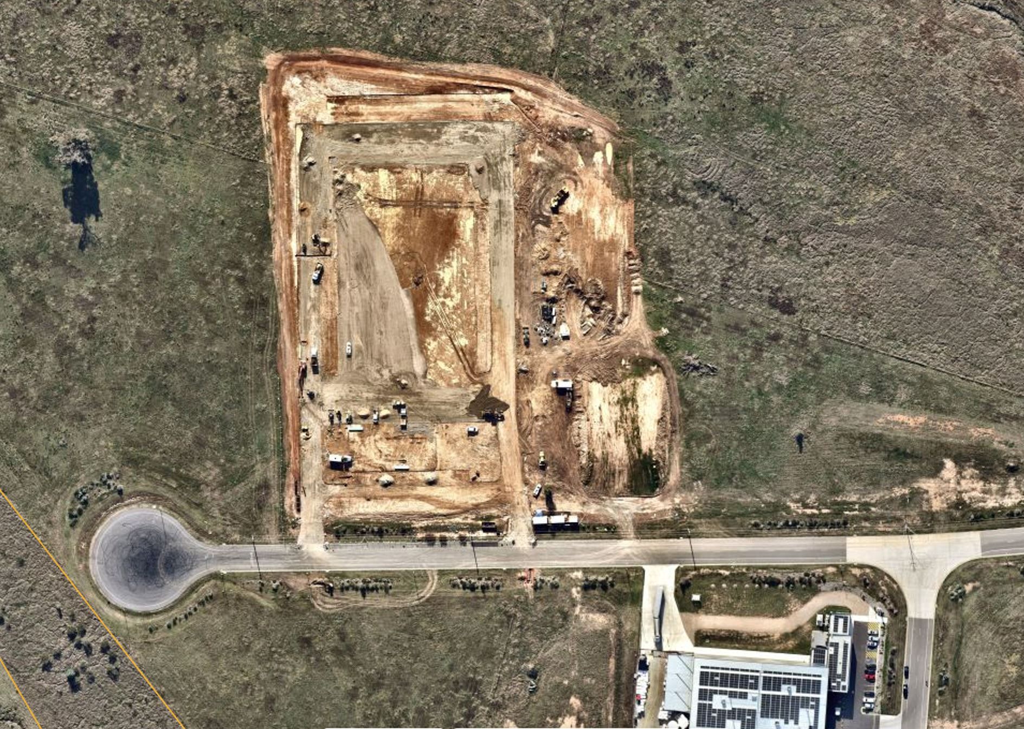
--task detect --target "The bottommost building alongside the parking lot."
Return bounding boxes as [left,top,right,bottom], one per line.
[689,657,829,729]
